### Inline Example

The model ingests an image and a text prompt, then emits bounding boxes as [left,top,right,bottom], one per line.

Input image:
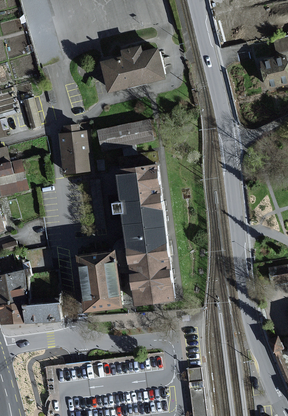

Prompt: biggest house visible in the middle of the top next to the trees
[101,46,168,92]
